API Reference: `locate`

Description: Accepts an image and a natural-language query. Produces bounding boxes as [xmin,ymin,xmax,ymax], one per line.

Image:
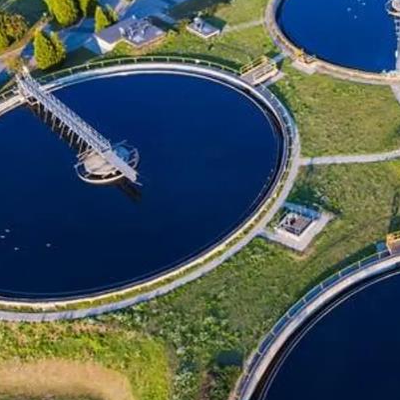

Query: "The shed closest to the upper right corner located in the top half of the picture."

[187,20,222,43]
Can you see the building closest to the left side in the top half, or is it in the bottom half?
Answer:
top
